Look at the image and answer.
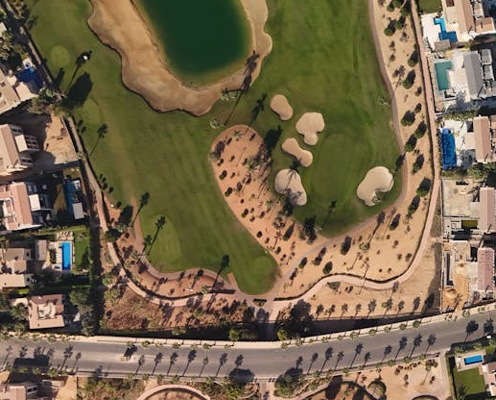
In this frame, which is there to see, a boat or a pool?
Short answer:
pool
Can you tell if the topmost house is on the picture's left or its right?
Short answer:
right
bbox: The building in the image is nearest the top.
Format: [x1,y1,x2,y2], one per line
[442,0,496,41]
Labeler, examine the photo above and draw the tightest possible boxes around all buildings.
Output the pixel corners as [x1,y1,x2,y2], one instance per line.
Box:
[0,239,50,286]
[442,0,496,41]
[0,61,40,119]
[0,181,56,228]
[29,293,77,329]
[464,114,496,162]
[0,380,65,400]
[0,123,42,174]
[454,240,496,293]
[443,48,496,98]
[470,186,496,234]
[72,202,89,219]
